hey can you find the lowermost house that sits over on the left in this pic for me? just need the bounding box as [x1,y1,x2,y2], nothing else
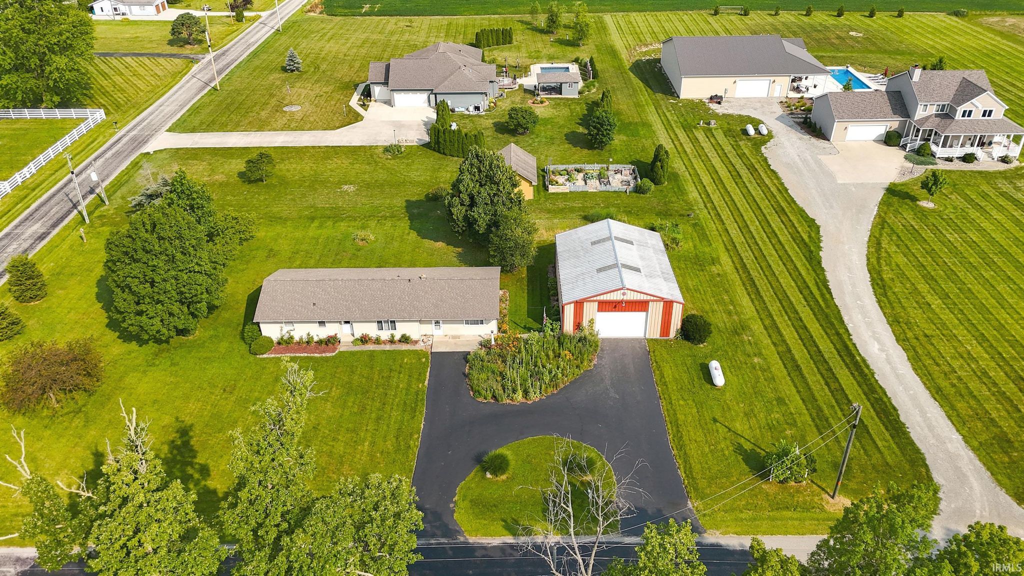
[251,266,501,343]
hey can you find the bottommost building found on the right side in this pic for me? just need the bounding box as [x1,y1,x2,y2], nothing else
[553,220,687,339]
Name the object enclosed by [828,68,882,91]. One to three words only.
swimming pool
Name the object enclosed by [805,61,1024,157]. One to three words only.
house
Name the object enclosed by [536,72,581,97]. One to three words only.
building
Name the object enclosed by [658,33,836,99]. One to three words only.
barn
